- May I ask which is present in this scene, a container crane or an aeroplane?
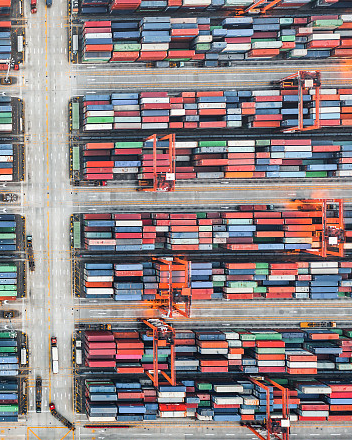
container crane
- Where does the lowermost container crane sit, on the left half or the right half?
right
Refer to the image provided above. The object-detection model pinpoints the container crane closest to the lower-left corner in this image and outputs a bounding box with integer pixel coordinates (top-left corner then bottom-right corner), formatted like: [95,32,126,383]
[137,320,175,388]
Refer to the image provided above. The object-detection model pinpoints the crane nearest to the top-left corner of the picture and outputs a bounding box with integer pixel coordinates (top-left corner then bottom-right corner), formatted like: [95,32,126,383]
[135,134,176,194]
